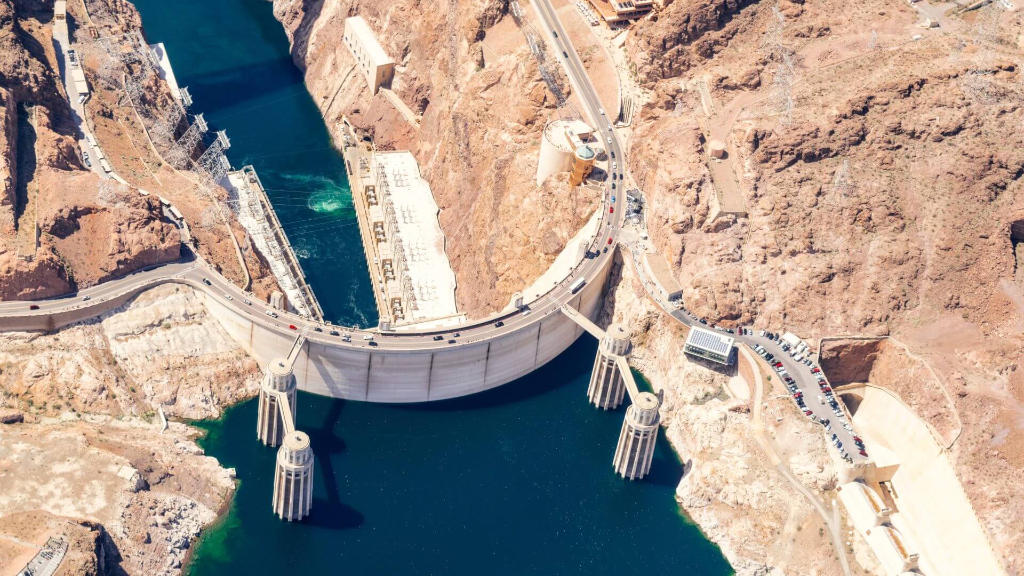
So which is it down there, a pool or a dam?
dam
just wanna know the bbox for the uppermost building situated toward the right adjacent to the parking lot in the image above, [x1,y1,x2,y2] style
[645,252,683,300]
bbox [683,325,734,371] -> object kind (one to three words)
building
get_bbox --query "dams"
[185,189,616,401]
